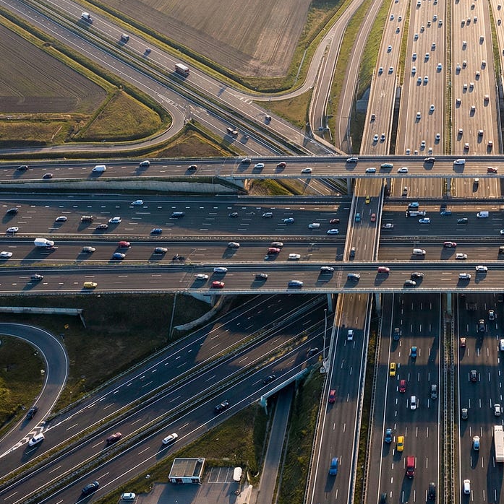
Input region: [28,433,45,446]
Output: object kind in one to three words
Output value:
vehicle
